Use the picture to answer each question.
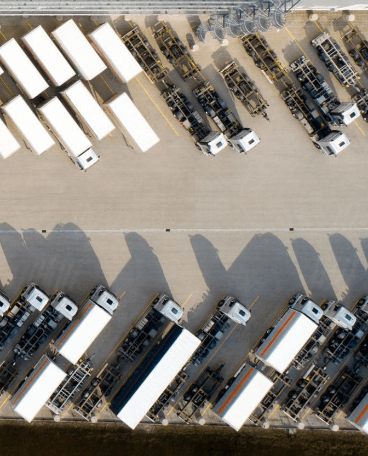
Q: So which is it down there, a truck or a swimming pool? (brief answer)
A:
truck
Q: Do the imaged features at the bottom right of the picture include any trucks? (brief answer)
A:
Yes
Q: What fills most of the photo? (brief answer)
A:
paved ground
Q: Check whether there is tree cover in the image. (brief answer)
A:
No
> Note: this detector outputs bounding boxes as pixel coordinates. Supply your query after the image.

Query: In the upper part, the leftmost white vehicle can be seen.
[72,146,102,173]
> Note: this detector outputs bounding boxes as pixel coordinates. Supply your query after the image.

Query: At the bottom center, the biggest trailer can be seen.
[110,323,200,430]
